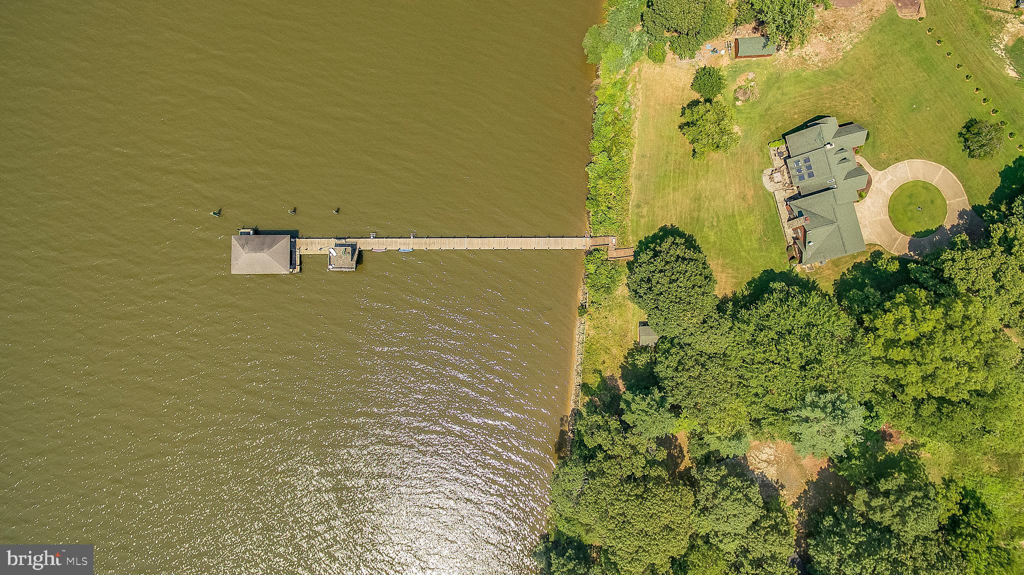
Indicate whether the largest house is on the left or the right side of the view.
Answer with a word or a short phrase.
right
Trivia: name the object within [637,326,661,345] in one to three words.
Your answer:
shed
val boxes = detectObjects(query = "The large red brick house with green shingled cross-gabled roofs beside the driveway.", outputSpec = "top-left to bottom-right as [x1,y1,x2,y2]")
[780,117,869,266]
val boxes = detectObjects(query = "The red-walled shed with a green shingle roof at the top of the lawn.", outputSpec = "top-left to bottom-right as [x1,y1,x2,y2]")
[735,36,776,59]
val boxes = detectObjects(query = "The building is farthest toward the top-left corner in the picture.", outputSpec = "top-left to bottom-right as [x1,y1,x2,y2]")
[231,228,300,274]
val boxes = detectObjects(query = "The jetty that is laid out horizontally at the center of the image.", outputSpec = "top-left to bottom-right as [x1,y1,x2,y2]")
[296,236,591,255]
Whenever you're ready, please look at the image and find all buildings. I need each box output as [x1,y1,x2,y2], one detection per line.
[637,326,661,345]
[231,228,300,274]
[780,117,869,266]
[735,36,776,59]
